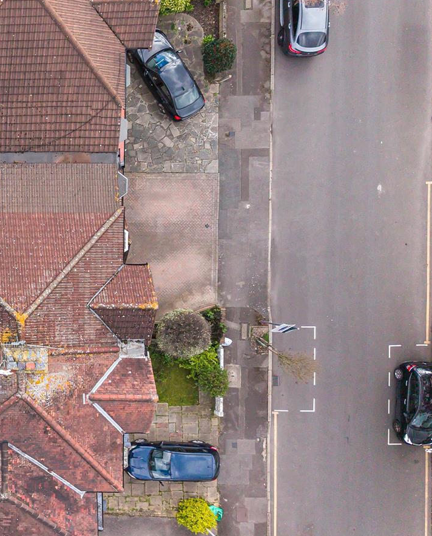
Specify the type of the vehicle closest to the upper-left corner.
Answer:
car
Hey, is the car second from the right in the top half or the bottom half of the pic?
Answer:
top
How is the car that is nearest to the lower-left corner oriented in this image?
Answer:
from left to right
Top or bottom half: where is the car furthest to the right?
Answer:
bottom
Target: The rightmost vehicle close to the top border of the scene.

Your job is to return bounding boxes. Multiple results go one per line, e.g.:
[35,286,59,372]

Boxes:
[274,0,325,55]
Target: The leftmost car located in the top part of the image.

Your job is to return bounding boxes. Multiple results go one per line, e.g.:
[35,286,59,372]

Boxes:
[132,33,203,123]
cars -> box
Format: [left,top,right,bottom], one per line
[125,437,215,483]
[132,33,203,123]
[391,362,432,443]
[274,0,325,55]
